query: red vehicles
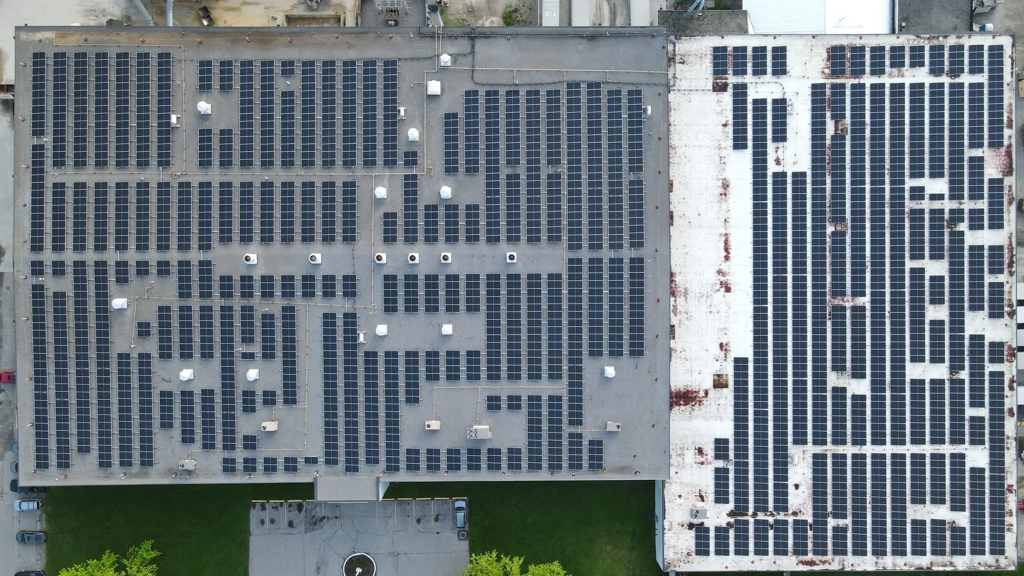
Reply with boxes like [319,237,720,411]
[0,371,15,386]
[1018,500,1024,513]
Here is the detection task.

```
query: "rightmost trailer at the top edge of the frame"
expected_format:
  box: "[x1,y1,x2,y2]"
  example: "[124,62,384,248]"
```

[626,0,650,26]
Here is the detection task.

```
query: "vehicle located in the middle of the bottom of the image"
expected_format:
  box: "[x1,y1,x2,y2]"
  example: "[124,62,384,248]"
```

[453,501,467,530]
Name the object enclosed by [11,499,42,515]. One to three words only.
car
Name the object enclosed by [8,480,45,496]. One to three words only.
vehicle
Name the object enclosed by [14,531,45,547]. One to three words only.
car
